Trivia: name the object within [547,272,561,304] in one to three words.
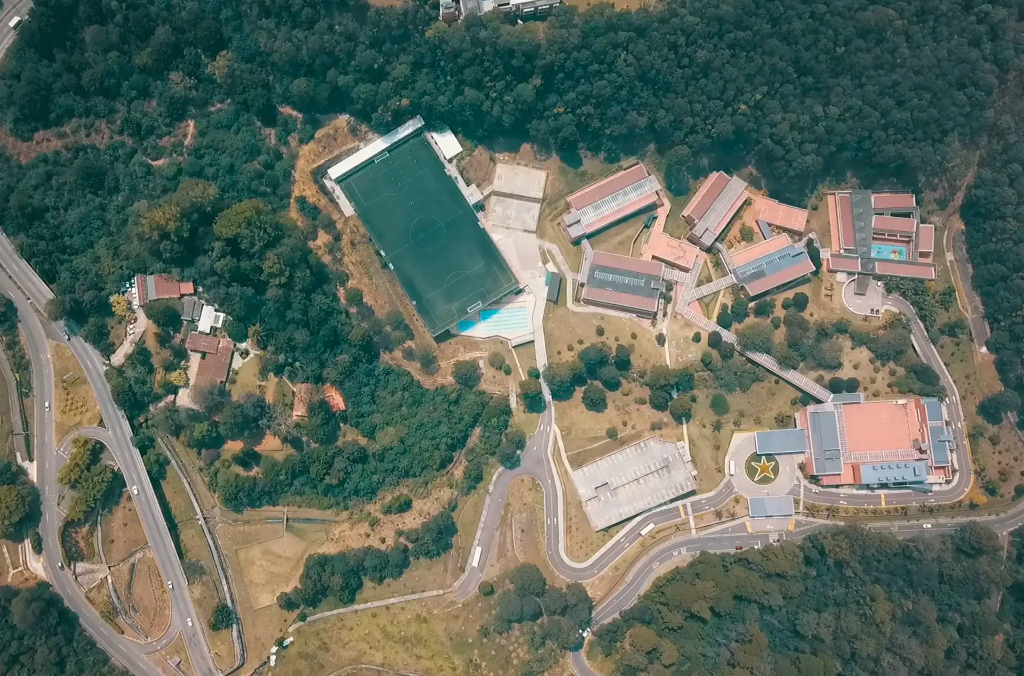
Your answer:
shed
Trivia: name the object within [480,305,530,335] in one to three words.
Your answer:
swimming pool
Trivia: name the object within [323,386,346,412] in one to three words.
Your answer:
house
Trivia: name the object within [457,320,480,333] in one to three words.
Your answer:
swimming pool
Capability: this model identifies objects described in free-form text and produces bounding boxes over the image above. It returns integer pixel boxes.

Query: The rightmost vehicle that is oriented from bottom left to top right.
[638,521,655,537]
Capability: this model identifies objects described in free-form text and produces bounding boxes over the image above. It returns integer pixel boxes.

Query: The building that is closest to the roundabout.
[792,398,959,493]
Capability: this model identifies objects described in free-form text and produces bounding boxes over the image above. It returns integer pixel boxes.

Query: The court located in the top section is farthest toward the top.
[492,163,548,201]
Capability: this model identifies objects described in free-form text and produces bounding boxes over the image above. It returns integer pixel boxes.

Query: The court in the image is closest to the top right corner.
[754,199,808,235]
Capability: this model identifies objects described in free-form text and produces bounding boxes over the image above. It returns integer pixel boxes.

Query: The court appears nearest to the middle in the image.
[487,196,541,233]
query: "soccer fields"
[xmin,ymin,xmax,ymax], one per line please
[336,125,521,337]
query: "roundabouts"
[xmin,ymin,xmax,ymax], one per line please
[726,431,804,499]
